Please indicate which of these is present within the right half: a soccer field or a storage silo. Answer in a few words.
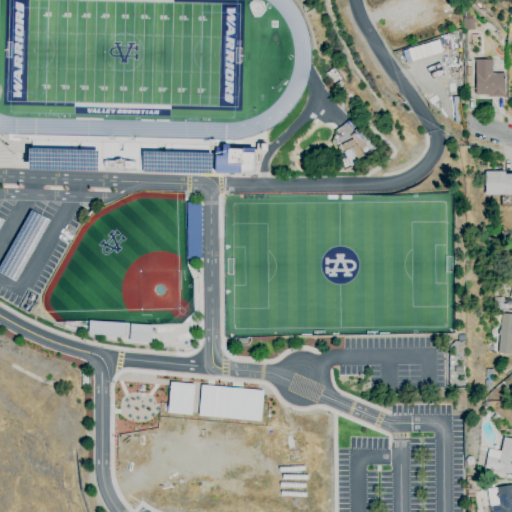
soccer field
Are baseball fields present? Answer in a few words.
Yes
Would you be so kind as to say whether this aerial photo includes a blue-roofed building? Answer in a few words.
Yes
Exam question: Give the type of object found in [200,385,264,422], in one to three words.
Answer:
building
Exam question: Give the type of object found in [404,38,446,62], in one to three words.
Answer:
shed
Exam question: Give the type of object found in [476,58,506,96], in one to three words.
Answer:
house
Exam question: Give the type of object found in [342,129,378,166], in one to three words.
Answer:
house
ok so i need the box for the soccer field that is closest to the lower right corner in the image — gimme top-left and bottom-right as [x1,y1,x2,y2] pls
[226,193,455,337]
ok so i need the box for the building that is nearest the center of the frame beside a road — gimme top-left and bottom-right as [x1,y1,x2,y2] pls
[188,202,204,259]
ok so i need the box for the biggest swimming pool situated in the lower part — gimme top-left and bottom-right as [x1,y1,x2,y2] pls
[483,420,496,446]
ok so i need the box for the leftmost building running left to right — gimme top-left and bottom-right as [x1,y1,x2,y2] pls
[89,321,130,338]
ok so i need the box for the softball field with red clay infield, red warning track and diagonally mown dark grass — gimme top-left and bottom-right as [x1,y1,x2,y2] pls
[44,192,194,324]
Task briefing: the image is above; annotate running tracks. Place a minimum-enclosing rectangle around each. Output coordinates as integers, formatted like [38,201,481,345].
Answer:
[0,0,312,140]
